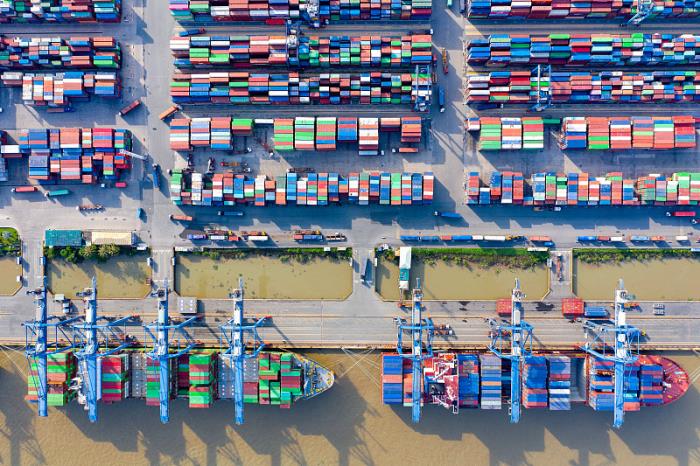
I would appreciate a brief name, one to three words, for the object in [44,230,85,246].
shed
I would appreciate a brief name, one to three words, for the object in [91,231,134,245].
shed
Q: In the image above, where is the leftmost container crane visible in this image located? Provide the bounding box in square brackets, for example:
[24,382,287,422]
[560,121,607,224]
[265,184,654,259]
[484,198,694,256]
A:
[26,277,102,420]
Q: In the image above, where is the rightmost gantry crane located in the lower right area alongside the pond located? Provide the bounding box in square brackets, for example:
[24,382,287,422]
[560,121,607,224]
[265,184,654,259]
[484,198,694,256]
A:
[564,279,634,430]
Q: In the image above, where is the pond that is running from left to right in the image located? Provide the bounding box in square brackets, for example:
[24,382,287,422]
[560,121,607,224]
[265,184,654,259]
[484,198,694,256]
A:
[0,249,700,299]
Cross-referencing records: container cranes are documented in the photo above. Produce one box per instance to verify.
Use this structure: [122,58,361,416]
[283,24,305,76]
[522,64,551,115]
[148,281,208,427]
[564,279,634,430]
[474,279,531,425]
[26,277,102,420]
[221,279,273,427]
[386,278,432,424]
[301,0,322,33]
[409,64,432,116]
[618,0,656,33]
[77,278,146,424]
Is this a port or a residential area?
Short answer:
port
